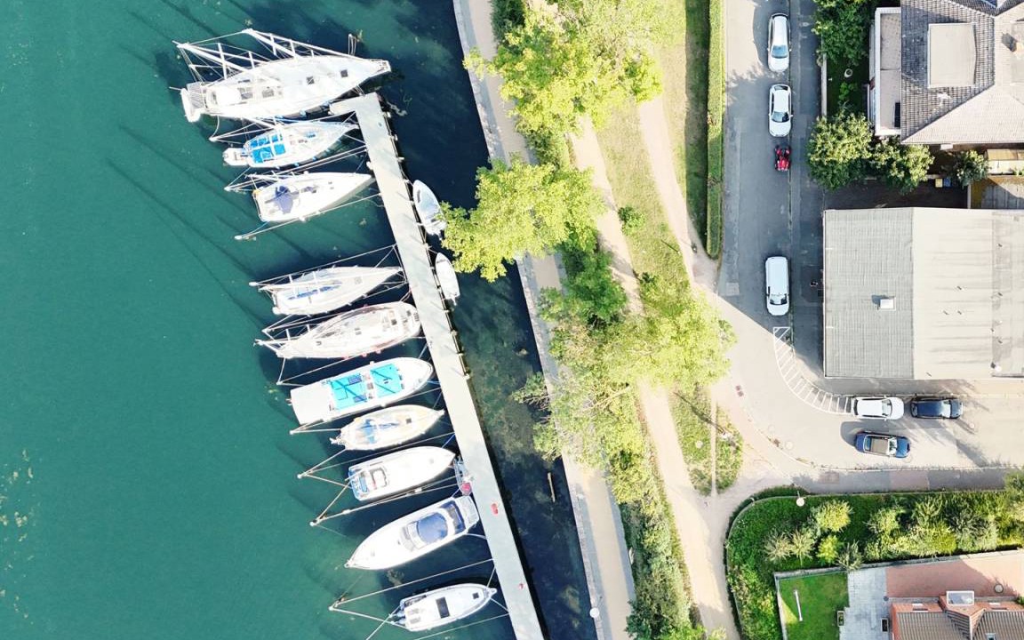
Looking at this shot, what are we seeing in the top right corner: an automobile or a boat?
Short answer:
automobile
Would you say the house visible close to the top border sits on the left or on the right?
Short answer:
right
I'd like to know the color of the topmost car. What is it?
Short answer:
white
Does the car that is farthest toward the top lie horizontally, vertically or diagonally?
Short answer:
vertically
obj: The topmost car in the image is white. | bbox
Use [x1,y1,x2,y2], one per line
[766,13,791,72]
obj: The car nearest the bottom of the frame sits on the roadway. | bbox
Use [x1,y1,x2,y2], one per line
[855,434,911,461]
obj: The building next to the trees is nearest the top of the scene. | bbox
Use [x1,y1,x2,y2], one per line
[871,0,1024,153]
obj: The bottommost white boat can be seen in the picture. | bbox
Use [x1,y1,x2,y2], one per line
[330,565,508,636]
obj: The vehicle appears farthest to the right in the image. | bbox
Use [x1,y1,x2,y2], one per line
[911,397,964,423]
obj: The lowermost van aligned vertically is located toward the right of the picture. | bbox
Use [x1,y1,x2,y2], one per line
[764,257,792,316]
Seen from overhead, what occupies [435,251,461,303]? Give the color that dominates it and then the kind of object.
white boat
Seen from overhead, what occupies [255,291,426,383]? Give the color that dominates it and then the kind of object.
white boat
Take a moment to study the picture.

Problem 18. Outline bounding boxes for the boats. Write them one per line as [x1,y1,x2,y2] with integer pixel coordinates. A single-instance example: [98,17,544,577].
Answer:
[319,488,485,597]
[413,180,446,237]
[226,153,380,238]
[330,565,508,636]
[255,246,406,330]
[211,111,364,187]
[455,457,472,495]
[435,251,461,303]
[167,28,392,136]
[296,394,452,476]
[280,347,440,432]
[300,435,455,524]
[255,291,426,383]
